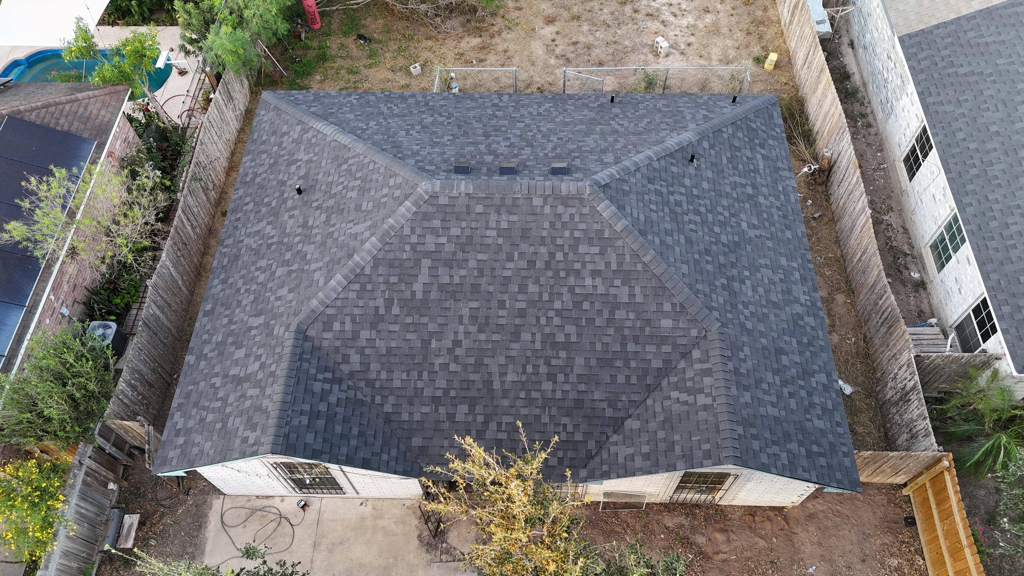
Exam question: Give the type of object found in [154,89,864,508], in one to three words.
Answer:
house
